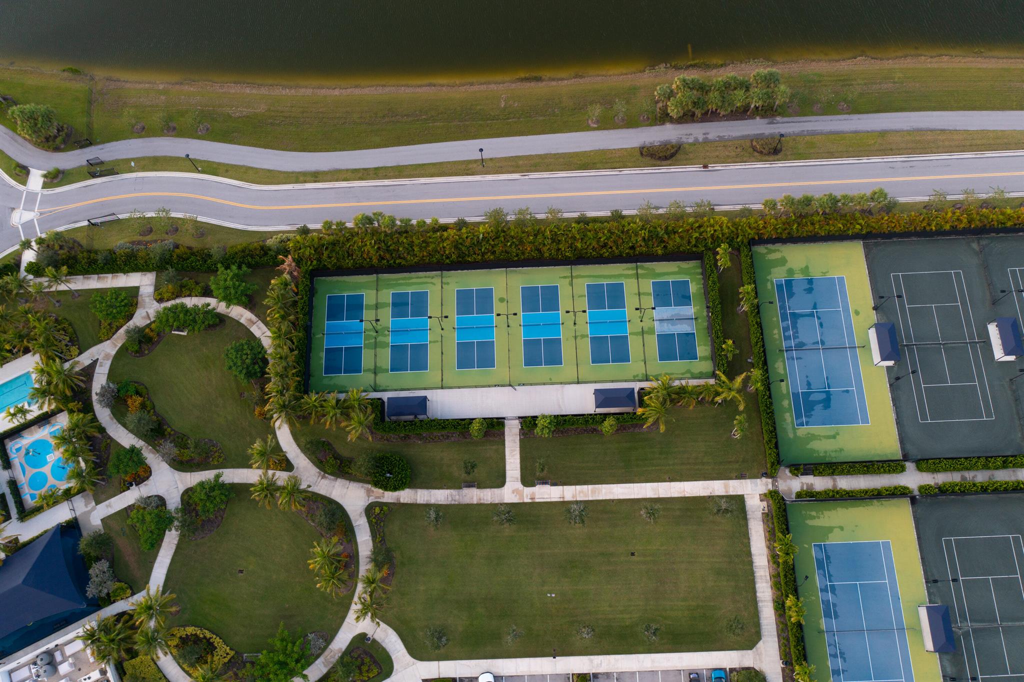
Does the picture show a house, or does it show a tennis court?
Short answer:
tennis court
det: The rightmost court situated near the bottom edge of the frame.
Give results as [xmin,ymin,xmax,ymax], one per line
[908,494,1024,682]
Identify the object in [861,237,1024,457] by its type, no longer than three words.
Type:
tennis court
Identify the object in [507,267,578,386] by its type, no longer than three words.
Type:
sports court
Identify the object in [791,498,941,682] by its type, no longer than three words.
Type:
tennis court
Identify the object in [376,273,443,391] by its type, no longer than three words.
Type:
sports court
